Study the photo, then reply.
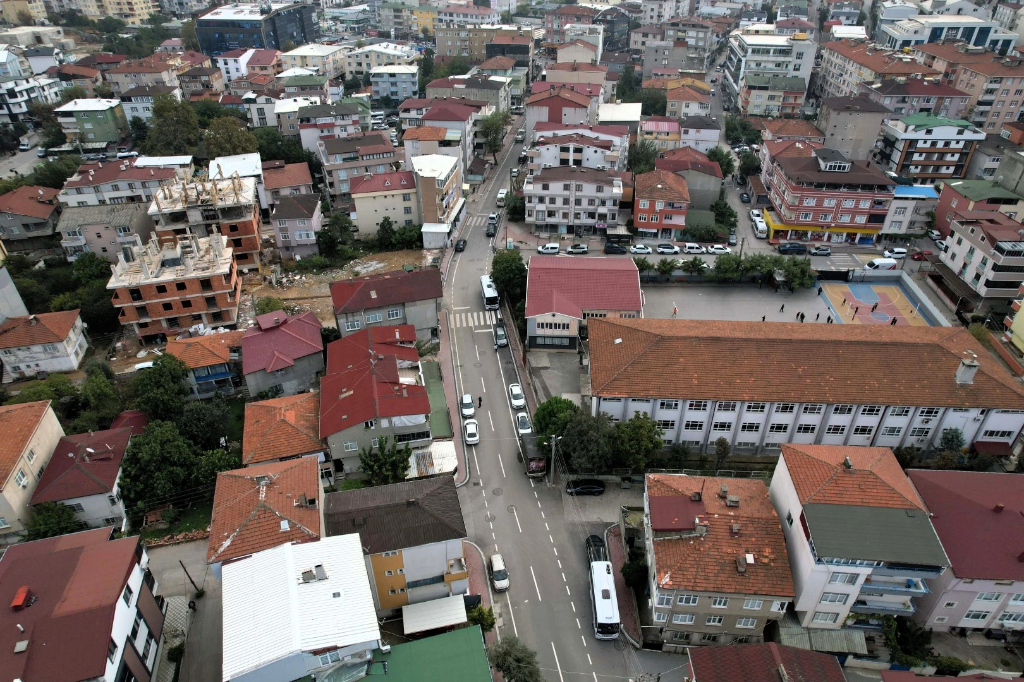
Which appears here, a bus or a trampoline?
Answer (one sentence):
Looking from above, you can make out a bus.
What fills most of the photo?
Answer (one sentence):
The bulk of the photo consists of buildings.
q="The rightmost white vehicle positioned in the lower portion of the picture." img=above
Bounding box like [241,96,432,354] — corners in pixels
[589,555,629,636]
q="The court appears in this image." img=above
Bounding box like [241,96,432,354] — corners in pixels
[815,283,945,325]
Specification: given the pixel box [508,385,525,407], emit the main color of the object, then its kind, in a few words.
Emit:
white car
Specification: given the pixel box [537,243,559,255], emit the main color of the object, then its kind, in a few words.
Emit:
white vehicle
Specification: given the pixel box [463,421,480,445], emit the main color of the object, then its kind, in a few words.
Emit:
white car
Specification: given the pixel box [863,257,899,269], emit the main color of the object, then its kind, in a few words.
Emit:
white vehicle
